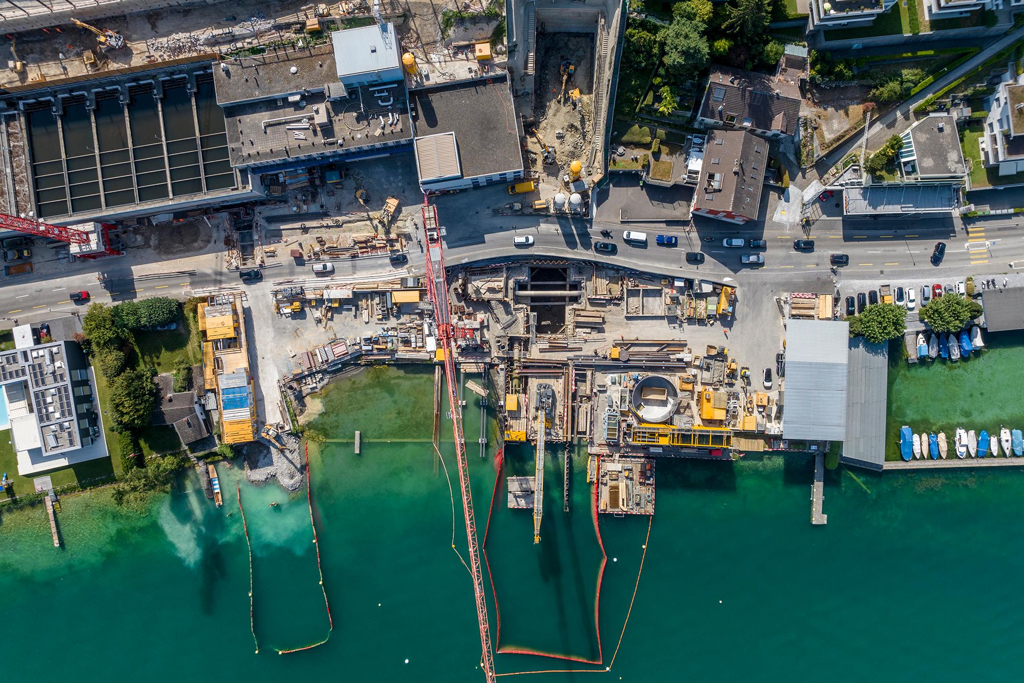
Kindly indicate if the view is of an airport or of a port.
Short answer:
port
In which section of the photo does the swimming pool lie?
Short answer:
left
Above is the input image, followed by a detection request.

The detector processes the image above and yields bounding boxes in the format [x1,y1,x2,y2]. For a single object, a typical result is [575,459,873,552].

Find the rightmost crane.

[530,381,556,541]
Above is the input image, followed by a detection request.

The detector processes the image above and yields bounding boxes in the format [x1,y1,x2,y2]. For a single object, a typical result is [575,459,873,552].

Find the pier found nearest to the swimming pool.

[45,495,60,546]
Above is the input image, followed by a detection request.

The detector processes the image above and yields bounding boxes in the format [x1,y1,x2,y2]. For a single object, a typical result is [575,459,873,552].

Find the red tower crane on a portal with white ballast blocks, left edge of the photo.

[0,210,131,263]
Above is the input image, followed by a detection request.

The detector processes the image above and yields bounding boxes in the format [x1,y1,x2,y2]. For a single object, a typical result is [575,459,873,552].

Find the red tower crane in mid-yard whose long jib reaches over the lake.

[419,196,498,683]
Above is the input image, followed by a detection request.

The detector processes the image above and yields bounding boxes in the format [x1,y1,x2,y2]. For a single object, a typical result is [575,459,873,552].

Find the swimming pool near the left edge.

[0,383,21,433]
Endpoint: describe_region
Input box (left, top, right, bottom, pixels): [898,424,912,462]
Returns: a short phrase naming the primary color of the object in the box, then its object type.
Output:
blue boat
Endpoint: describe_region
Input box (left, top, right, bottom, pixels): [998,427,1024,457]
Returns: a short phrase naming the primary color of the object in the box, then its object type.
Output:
white boat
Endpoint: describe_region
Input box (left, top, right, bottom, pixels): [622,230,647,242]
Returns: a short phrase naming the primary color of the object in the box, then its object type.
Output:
white vehicle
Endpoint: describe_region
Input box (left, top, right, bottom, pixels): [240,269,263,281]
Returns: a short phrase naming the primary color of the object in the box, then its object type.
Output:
black vehicle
